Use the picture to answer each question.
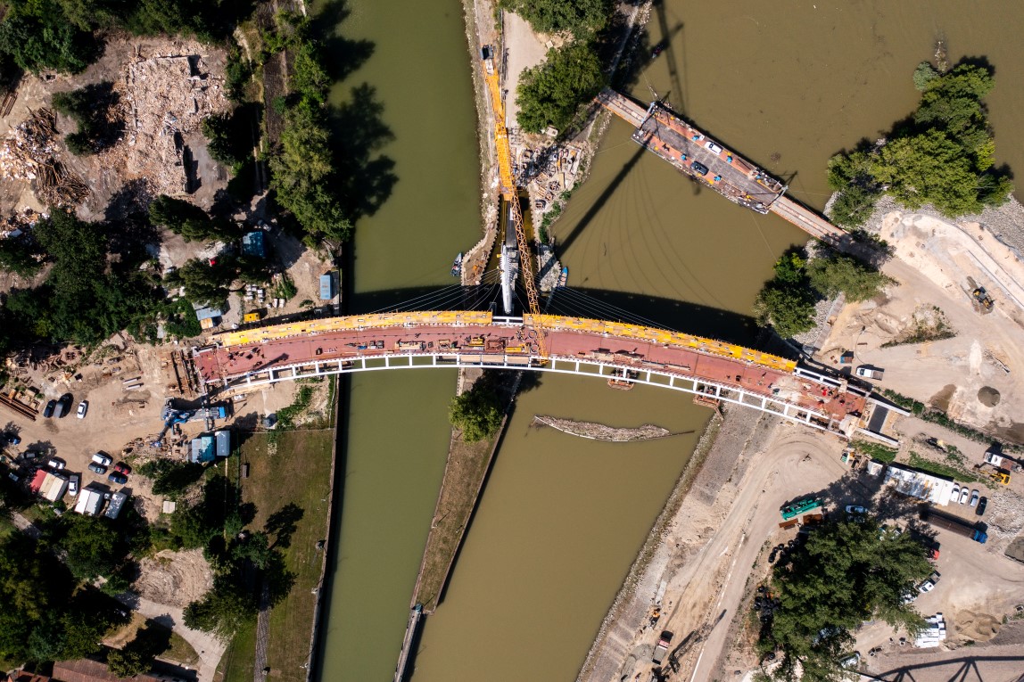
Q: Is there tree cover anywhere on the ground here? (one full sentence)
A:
Yes, the picture does contain tree cover.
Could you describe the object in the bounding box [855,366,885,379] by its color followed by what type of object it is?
white vehicle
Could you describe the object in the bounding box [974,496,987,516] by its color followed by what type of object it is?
black vehicle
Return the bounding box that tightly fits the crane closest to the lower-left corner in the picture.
[154,395,225,447]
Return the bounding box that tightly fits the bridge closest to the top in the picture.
[595,86,839,239]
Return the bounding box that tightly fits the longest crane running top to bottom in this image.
[479,42,547,359]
